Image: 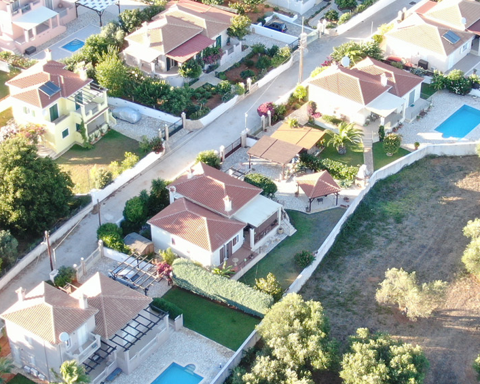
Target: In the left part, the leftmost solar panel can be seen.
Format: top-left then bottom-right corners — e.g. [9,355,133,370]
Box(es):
[36,79,59,95]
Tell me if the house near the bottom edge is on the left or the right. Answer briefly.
left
